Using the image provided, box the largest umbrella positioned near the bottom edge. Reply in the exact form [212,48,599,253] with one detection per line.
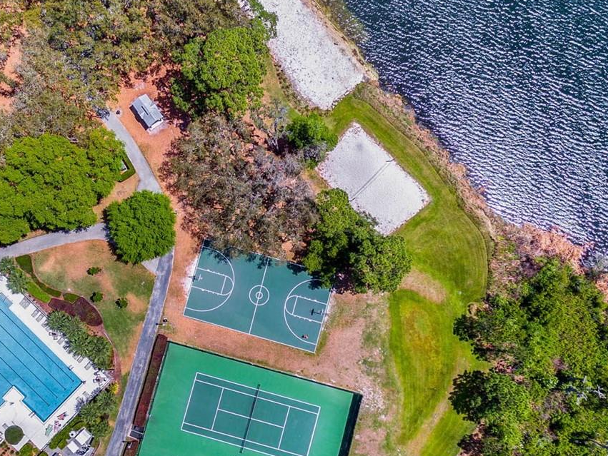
[6,425,25,444]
